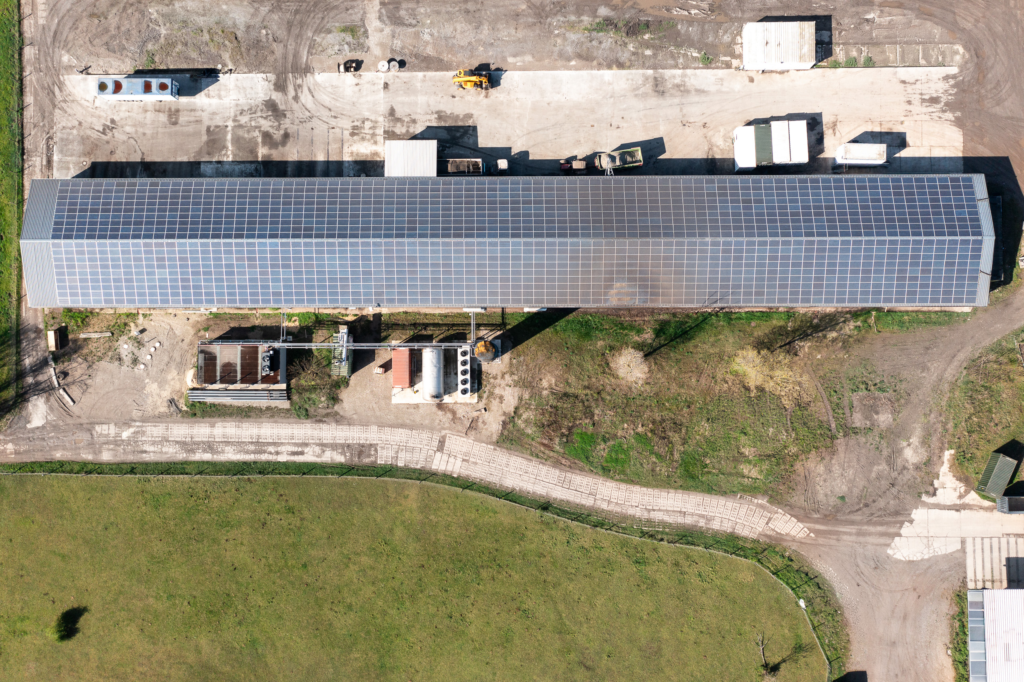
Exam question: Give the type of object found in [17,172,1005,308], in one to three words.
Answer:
barn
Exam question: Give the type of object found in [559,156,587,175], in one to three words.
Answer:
work vehicle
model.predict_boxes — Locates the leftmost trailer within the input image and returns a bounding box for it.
[97,78,181,103]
